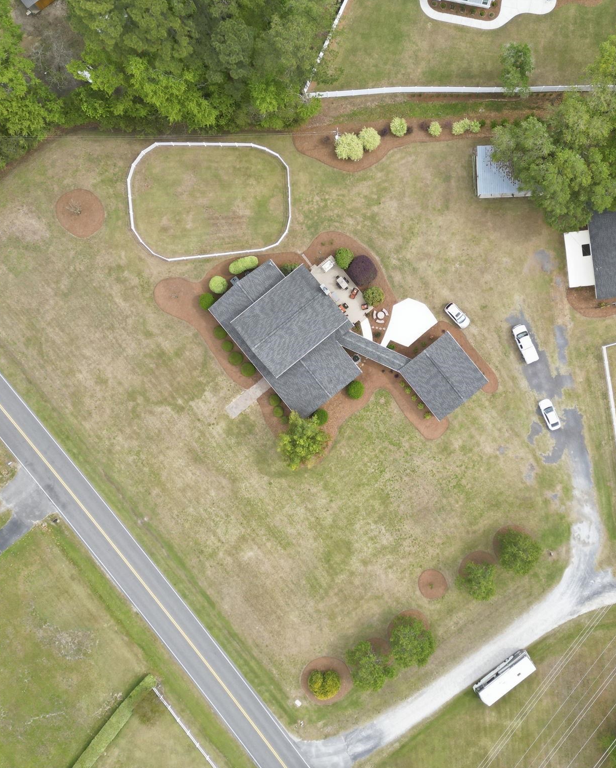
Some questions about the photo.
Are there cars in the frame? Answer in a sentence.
Yes, the picture does show a car.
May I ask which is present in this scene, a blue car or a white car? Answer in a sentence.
Visible in the photo is a white car.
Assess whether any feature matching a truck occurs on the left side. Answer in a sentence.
No, the scene shows no truck on the left side.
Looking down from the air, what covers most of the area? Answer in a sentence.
Most of the picture is covered by grass.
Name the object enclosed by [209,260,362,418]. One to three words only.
house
